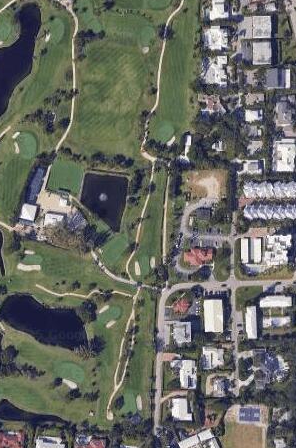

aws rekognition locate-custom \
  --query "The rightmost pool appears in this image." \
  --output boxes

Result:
[266,357,281,374]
